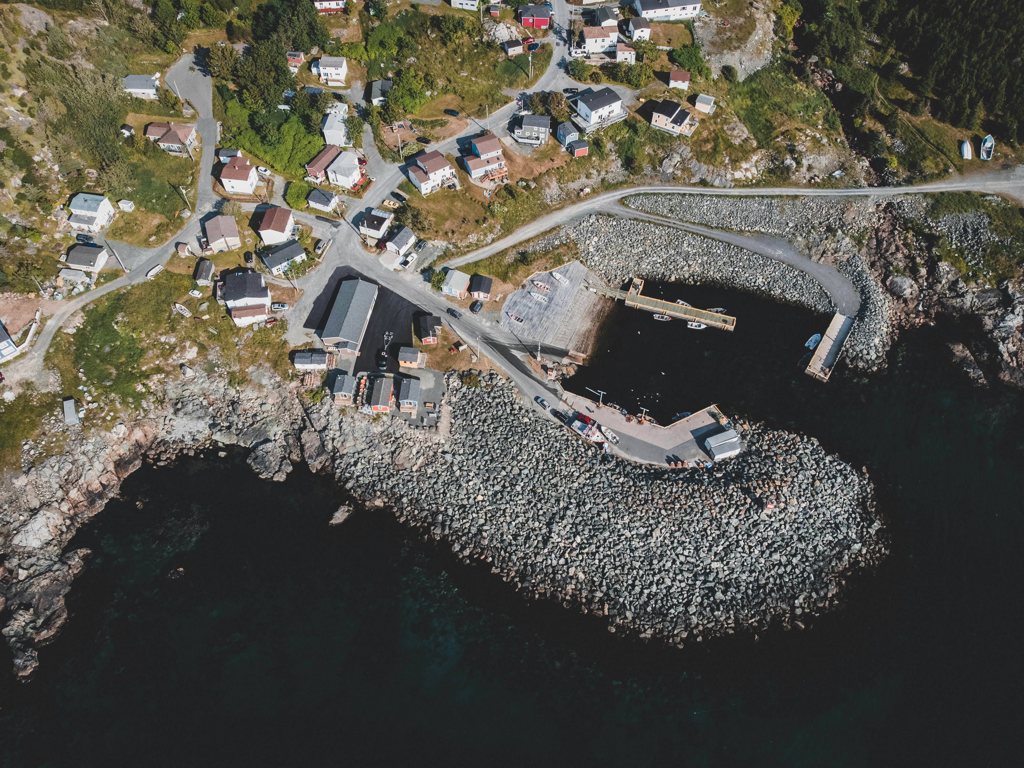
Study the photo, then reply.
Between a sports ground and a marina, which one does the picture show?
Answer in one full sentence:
What you see here is a marina.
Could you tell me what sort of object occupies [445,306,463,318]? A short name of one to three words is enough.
vehicle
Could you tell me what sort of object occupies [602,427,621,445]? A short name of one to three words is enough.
boat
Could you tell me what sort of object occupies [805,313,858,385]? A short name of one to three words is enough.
pier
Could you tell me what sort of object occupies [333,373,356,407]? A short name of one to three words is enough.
shed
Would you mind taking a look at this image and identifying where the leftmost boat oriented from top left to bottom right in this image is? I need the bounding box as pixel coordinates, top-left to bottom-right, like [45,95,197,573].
[174,299,192,316]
